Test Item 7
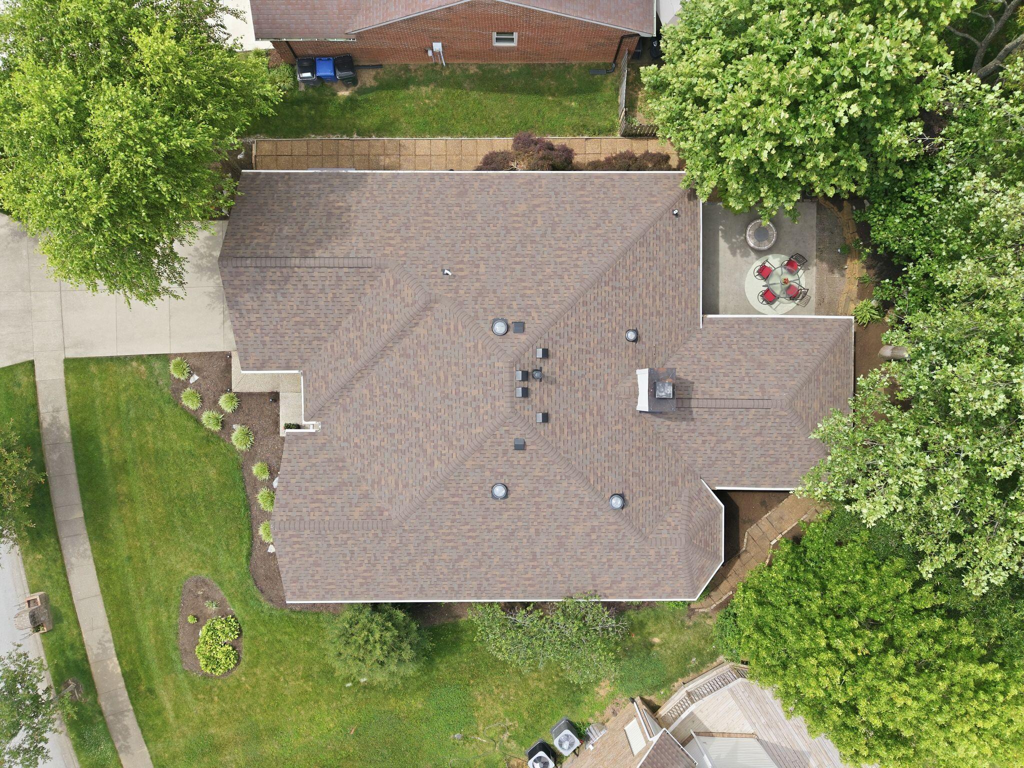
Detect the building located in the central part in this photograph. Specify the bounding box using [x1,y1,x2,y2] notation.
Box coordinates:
[218,168,855,606]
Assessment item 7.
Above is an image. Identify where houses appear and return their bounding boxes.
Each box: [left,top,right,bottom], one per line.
[247,0,654,73]
[563,690,779,768]
[218,168,855,606]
